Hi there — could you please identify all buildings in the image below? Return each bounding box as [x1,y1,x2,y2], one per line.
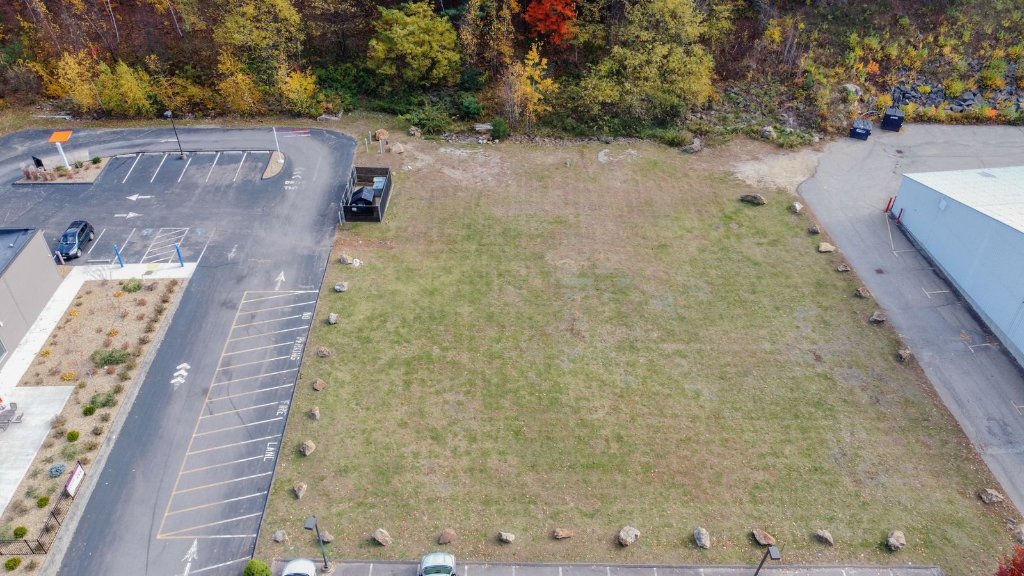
[0,225,63,367]
[884,169,1024,372]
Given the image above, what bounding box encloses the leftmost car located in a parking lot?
[56,220,95,259]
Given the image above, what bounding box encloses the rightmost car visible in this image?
[417,554,455,576]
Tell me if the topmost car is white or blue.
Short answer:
blue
